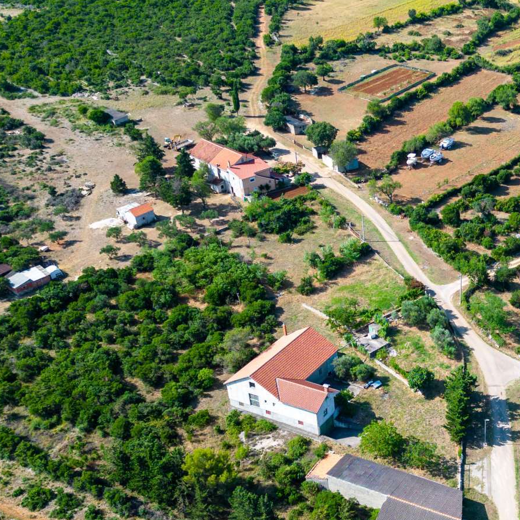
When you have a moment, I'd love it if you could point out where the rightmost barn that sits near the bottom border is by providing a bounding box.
[307,449,479,520]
